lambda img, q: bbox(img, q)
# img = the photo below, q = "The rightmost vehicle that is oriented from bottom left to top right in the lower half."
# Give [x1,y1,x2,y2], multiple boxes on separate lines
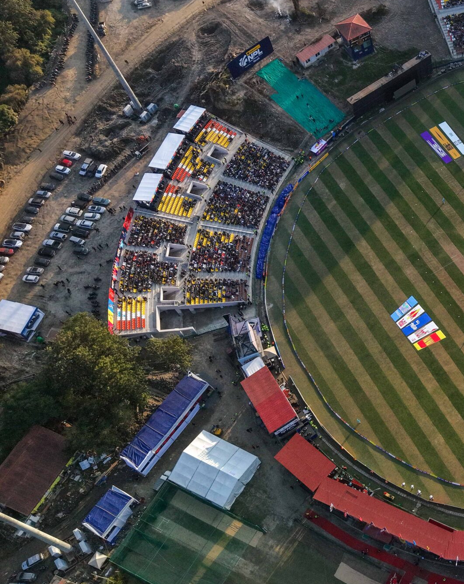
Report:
[152,465,172,488]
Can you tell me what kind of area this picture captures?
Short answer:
sports ground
